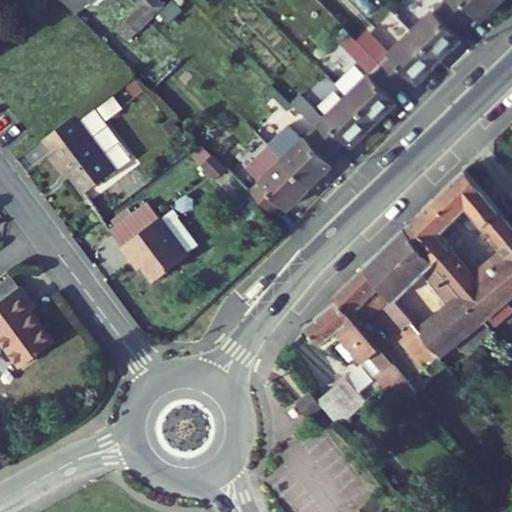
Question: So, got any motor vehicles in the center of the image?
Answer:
Yes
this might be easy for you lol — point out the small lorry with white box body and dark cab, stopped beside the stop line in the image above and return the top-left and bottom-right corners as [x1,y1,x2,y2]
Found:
[249,273,275,298]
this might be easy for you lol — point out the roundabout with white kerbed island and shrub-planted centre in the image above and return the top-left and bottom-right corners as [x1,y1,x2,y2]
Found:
[113,356,257,499]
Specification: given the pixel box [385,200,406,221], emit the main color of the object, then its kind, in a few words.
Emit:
white car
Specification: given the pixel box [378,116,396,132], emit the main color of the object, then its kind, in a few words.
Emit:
gray car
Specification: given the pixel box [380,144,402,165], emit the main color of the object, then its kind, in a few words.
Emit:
gray car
